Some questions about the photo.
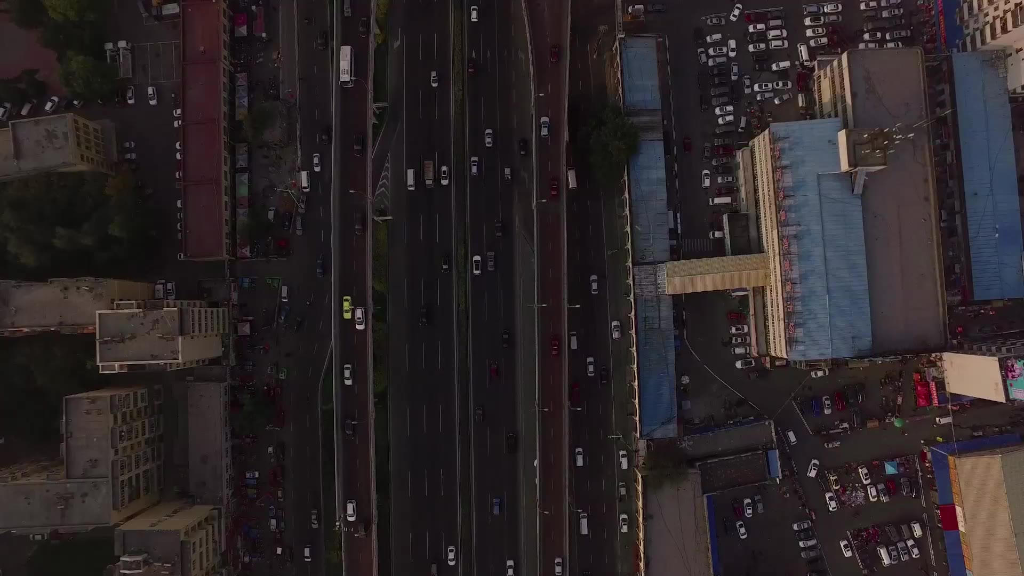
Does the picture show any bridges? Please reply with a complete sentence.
Yes, this view includes a bridge.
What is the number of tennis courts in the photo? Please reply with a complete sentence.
The photo contains no tennis courts.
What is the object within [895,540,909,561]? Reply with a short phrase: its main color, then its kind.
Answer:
gray car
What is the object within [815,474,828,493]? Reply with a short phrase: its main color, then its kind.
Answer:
black vehicle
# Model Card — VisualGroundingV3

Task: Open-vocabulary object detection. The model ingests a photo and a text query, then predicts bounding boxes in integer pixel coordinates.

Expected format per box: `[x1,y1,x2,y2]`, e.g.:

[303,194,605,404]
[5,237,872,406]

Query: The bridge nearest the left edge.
[326,0,382,576]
